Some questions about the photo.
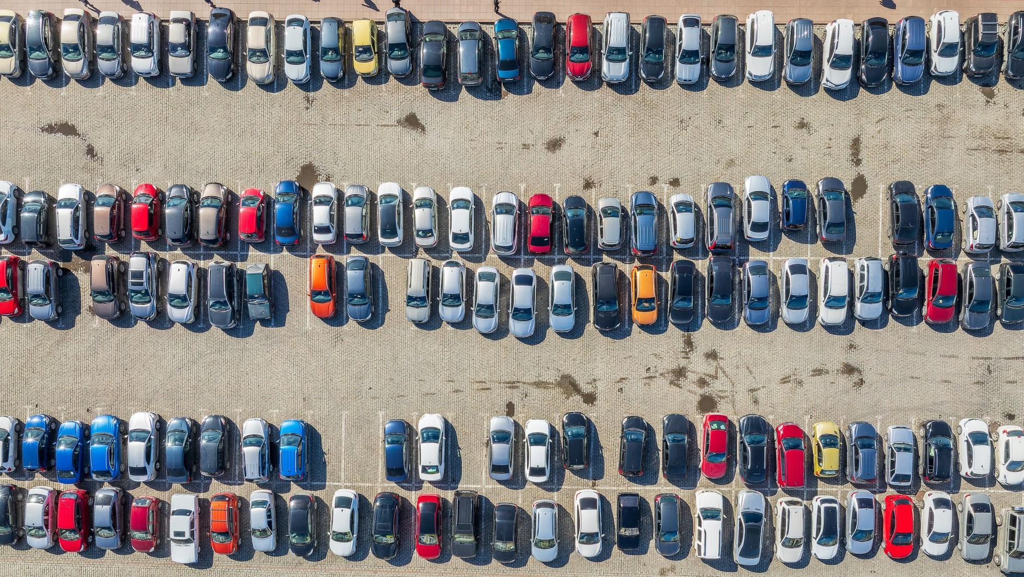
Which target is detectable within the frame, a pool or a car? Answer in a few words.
car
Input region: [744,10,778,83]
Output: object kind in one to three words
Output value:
car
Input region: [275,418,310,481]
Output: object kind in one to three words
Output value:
car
